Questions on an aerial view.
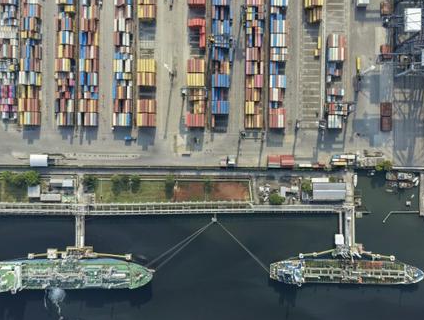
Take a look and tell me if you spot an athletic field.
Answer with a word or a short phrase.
No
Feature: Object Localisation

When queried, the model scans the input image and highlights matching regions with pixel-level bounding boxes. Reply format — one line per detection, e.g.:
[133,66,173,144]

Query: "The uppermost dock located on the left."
[0,201,264,216]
